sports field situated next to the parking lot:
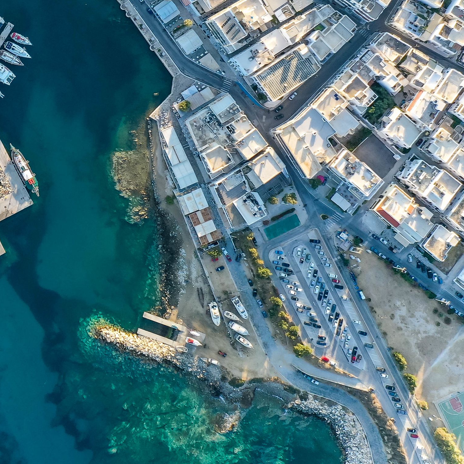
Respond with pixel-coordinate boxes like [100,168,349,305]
[260,211,307,241]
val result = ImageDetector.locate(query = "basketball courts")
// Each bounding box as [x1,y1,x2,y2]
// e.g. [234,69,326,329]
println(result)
[433,388,464,456]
